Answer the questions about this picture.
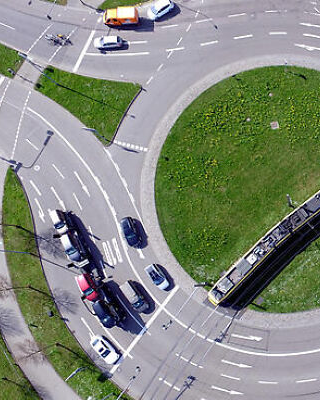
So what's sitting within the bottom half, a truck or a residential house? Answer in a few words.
truck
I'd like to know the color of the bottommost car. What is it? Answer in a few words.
white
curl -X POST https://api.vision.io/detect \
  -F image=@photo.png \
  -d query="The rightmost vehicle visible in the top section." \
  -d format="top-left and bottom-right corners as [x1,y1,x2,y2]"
[149,0,181,21]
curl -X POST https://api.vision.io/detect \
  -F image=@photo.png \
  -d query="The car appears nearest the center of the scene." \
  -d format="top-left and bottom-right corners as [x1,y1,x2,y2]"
[122,216,144,248]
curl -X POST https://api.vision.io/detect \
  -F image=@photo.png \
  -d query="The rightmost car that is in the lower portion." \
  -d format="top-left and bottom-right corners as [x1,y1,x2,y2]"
[146,263,172,292]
